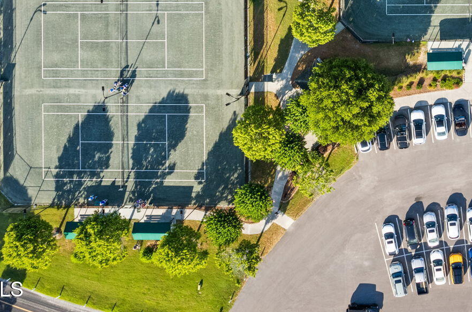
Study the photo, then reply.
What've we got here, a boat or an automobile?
automobile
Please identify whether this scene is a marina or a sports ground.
sports ground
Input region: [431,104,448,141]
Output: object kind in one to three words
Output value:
car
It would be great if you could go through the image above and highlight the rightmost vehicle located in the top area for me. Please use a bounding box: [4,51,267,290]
[452,105,468,137]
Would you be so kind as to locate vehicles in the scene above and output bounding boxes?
[444,204,461,240]
[347,305,380,312]
[430,249,447,286]
[402,218,422,251]
[372,118,391,152]
[381,223,398,256]
[467,207,472,244]
[431,104,448,141]
[390,262,408,299]
[423,212,440,248]
[410,110,426,145]
[452,105,468,137]
[393,114,411,152]
[411,256,430,298]
[448,252,466,287]
[357,126,371,154]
